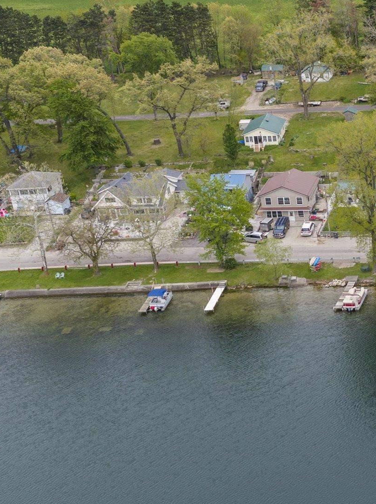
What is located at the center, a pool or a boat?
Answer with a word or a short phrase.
boat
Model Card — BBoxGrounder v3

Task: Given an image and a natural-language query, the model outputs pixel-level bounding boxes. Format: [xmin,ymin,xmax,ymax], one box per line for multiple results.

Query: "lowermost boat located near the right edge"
[339,284,369,316]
